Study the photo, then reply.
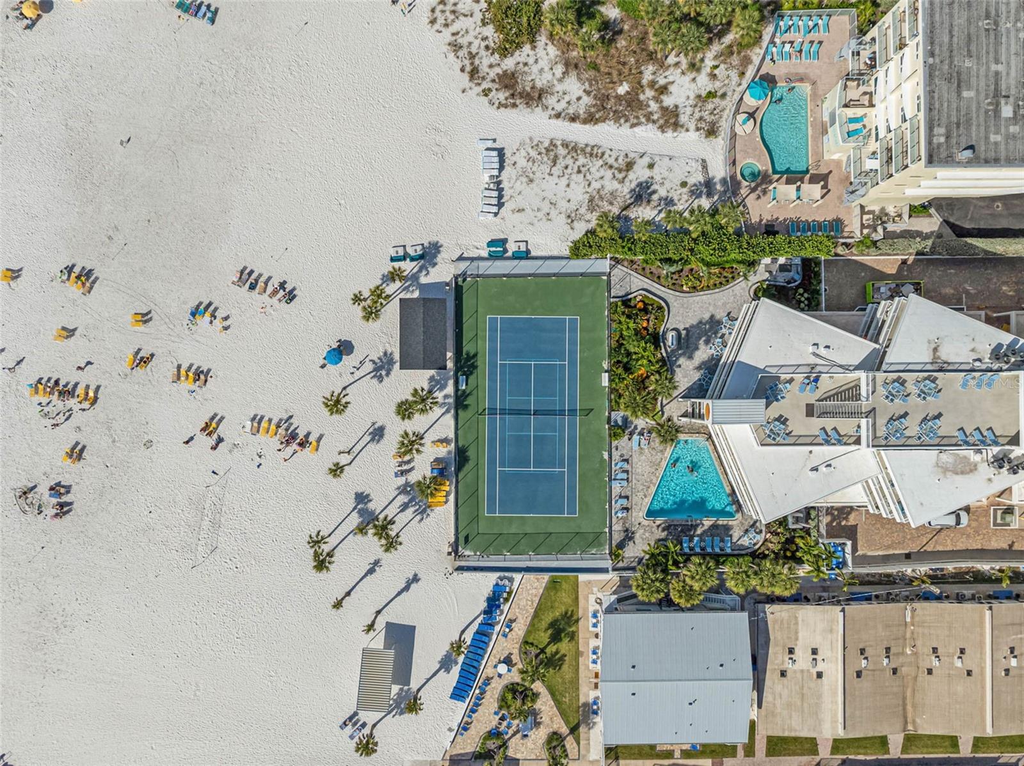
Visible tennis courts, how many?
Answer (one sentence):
The photo contains exactly 1 tennis court.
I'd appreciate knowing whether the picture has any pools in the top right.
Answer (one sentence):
Yes, a pool can be seen in the top right.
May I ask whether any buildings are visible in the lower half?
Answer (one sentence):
Yes, a building shows up in the lower half.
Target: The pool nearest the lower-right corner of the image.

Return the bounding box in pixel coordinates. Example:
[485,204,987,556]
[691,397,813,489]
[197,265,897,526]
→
[642,436,738,524]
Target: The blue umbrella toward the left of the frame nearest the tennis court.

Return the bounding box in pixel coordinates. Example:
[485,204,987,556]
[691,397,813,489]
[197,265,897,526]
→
[325,348,343,365]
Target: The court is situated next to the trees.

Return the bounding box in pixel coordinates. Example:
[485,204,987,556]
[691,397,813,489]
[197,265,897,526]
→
[455,259,609,572]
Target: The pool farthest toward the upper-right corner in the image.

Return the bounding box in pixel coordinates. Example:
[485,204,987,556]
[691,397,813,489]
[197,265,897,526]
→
[757,81,818,178]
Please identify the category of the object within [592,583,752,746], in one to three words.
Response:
house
